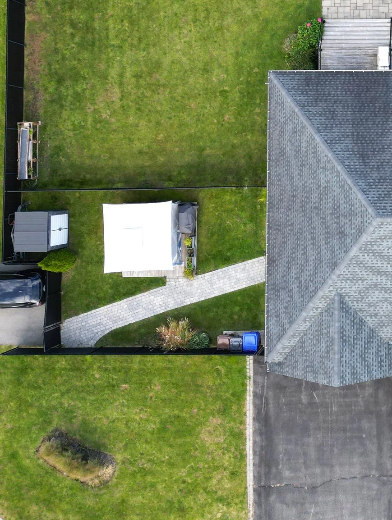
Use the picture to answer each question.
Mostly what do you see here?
grass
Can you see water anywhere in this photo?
No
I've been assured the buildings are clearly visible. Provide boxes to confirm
[263,68,392,387]
[10,210,69,251]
